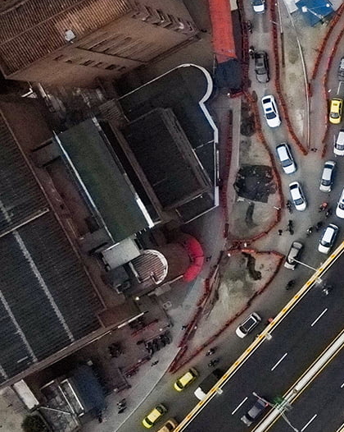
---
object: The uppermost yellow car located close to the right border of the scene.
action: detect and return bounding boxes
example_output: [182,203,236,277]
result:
[329,97,344,124]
